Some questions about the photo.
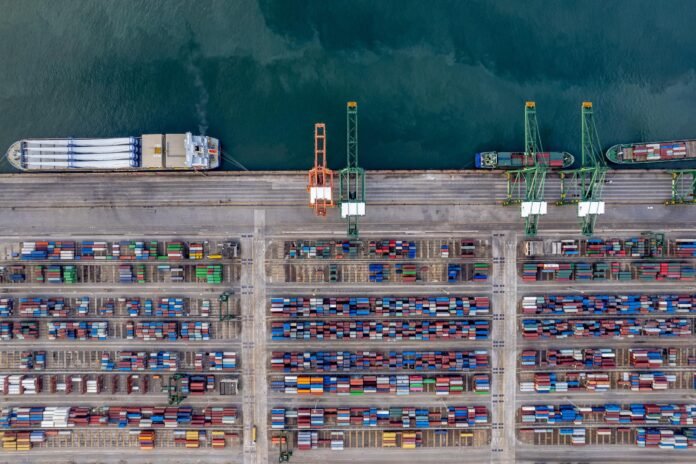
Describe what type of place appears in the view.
port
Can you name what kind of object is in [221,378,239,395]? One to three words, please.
shed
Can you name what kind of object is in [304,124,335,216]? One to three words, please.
container crane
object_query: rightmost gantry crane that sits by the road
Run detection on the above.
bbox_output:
[661,168,696,217]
